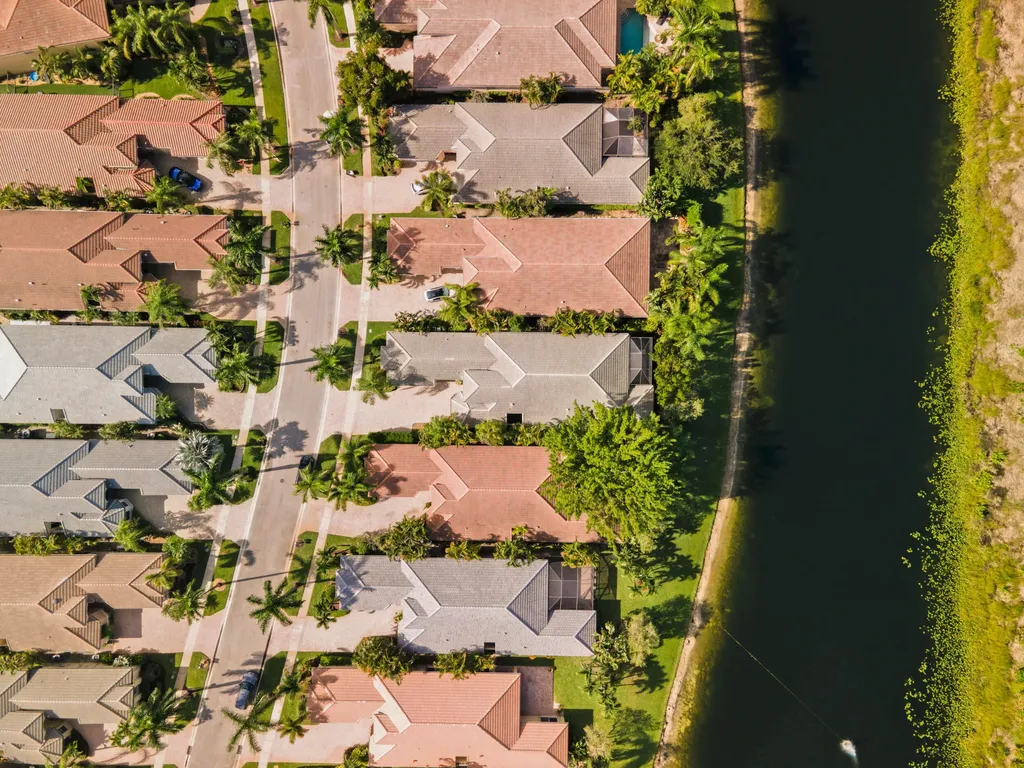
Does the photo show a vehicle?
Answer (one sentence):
Yes, a vehicle is visible in the scene.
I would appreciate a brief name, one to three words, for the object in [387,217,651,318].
house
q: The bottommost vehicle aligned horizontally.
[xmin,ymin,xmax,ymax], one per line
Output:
[422,283,455,300]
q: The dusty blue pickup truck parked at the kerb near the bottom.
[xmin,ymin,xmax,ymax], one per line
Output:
[232,672,257,712]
